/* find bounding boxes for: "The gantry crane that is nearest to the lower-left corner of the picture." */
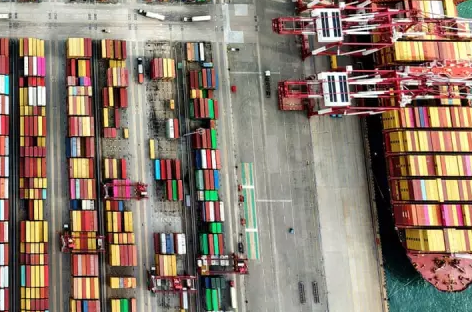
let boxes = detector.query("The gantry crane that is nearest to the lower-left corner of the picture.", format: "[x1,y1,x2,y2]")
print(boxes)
[55,231,105,253]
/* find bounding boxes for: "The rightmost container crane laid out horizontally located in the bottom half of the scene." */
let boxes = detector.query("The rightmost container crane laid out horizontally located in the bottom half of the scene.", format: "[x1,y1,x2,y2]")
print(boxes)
[187,253,249,276]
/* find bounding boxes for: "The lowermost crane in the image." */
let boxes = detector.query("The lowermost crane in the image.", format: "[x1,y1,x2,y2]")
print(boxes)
[140,270,198,294]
